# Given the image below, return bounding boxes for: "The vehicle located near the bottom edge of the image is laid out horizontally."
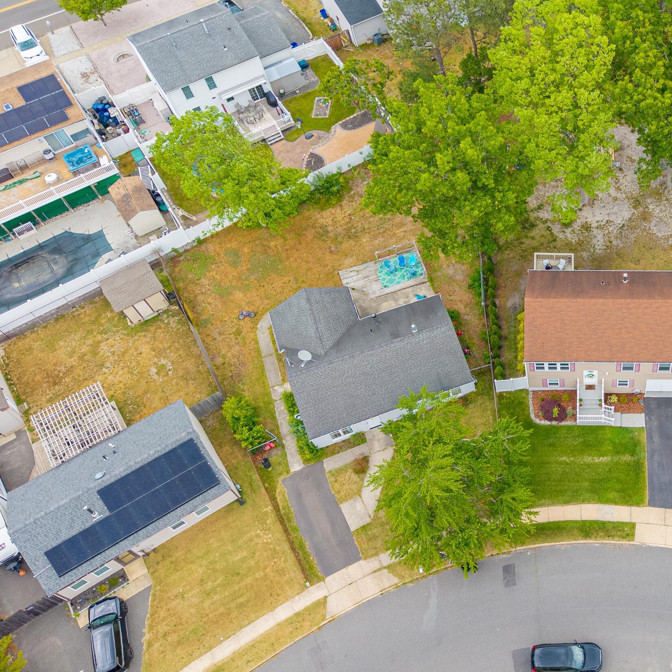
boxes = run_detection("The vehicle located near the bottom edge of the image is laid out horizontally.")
[530,639,602,672]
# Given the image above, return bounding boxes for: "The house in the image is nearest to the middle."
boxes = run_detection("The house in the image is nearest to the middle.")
[269,286,473,450]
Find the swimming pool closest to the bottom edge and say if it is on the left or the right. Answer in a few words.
left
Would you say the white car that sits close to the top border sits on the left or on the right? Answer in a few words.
left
